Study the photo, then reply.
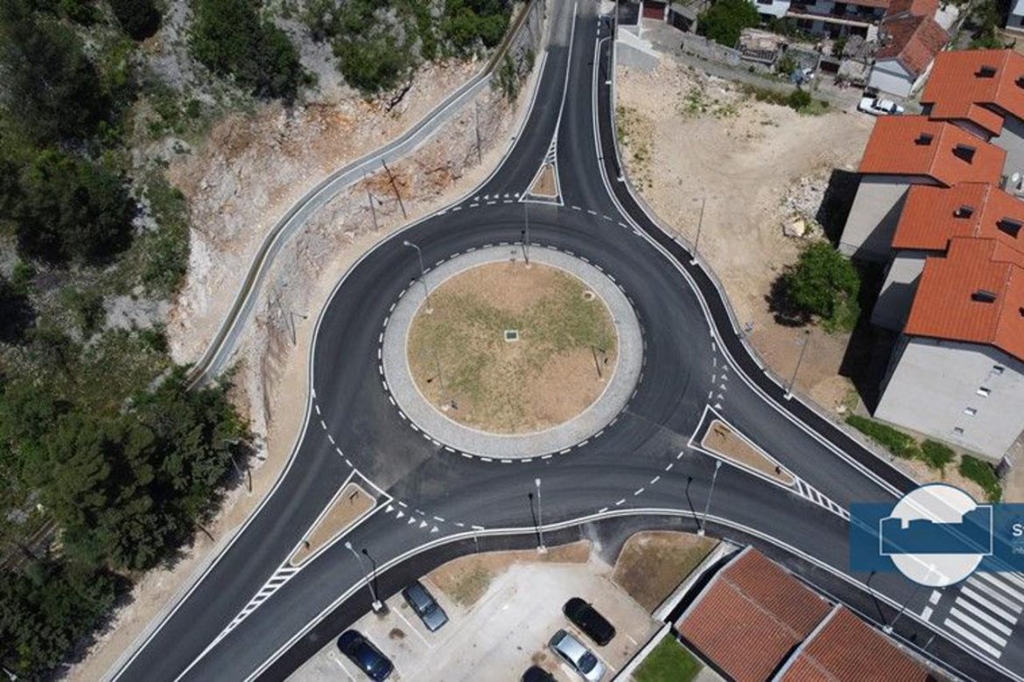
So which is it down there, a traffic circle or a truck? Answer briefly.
traffic circle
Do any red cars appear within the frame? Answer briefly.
No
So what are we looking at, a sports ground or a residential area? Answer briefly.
residential area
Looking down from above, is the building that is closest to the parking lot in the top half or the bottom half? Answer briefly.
bottom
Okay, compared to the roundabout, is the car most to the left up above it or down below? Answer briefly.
below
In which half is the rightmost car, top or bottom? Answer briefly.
top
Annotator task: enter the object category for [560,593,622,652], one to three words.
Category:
car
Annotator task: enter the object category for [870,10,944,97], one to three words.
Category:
house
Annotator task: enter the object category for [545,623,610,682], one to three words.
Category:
car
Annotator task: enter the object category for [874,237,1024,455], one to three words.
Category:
house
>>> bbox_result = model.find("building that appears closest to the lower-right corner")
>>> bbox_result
[780,603,948,682]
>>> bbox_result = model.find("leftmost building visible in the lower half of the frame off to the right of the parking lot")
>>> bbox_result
[677,544,833,682]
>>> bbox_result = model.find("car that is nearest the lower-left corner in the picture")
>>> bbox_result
[332,626,396,682]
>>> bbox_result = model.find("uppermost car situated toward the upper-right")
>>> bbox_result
[856,94,907,116]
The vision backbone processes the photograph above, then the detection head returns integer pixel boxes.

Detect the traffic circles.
[311,192,729,533]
